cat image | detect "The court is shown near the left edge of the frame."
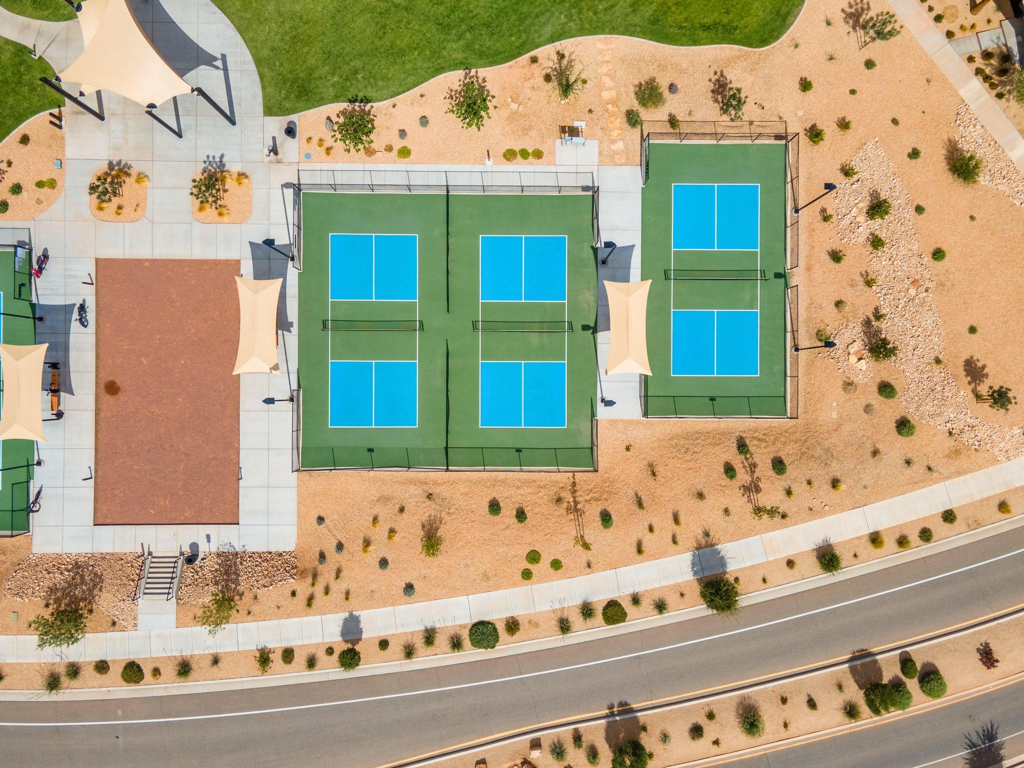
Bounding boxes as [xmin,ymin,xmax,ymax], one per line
[0,249,36,535]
